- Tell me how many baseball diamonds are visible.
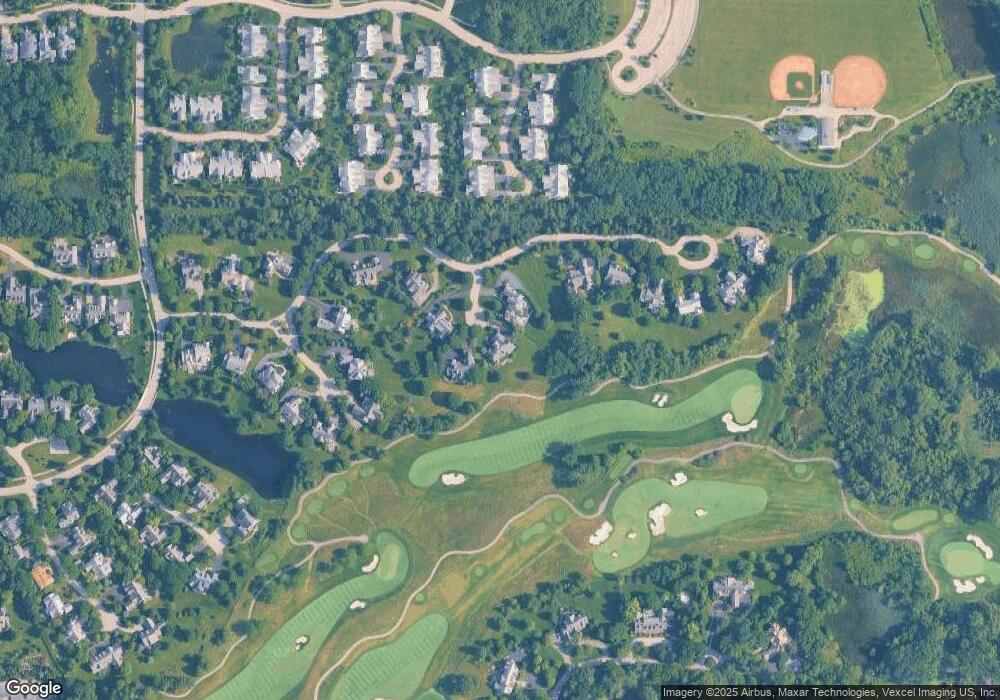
two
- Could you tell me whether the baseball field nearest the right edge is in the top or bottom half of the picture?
top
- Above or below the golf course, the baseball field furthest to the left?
above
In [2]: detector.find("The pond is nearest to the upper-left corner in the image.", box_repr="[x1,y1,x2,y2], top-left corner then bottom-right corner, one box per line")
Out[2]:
[88,35,122,137]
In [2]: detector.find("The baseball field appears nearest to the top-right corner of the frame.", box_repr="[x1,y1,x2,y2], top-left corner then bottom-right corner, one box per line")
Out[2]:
[833,55,887,107]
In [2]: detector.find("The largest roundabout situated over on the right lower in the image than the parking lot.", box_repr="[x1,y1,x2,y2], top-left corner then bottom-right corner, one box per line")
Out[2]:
[676,235,718,268]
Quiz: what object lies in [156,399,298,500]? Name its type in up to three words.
pond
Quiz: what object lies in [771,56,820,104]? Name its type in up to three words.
baseball field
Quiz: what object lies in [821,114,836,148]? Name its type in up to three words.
building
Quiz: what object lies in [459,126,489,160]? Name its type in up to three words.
house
